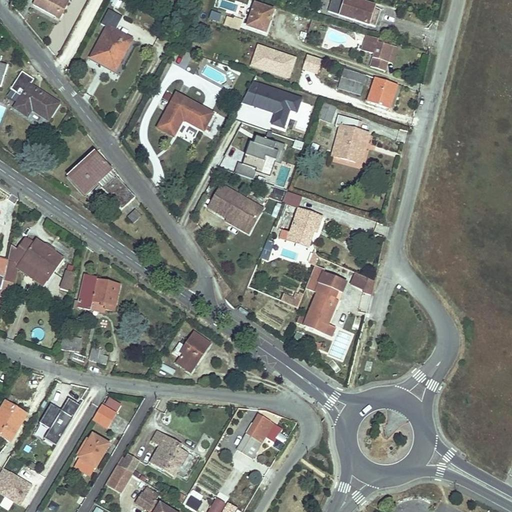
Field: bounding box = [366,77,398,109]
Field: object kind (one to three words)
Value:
house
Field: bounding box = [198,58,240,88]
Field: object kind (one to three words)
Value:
swimming pool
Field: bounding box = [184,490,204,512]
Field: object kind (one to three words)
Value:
swimming pool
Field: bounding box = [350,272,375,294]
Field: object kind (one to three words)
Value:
building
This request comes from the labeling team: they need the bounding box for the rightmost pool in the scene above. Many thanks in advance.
[322,28,365,48]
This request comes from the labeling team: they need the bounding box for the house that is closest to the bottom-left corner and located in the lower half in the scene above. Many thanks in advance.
[0,468,32,506]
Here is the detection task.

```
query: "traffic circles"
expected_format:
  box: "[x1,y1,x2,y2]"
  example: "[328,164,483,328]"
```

[300,372,462,512]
